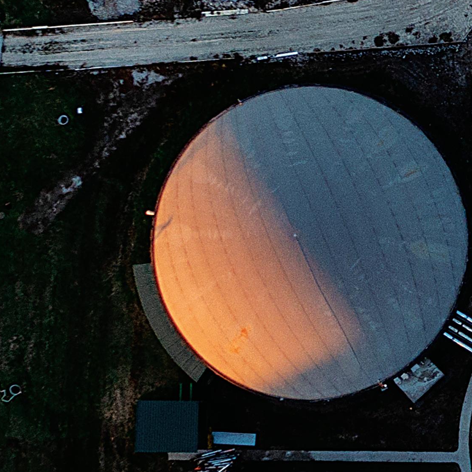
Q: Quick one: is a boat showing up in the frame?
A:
No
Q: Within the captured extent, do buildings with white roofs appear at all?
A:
No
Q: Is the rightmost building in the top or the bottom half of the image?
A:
bottom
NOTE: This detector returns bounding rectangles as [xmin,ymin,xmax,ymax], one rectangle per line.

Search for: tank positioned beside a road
[135,83,472,405]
